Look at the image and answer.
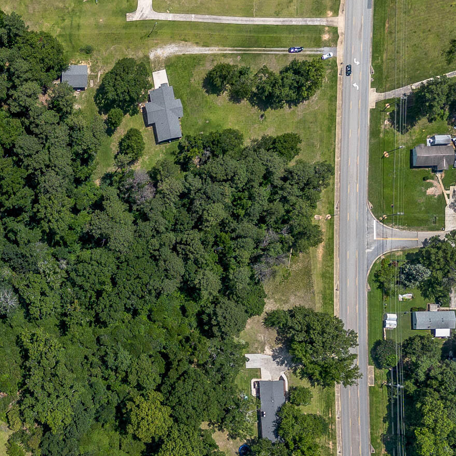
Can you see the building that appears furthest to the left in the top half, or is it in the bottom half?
top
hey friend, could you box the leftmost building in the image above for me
[62,64,87,90]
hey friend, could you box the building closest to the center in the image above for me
[144,83,184,144]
